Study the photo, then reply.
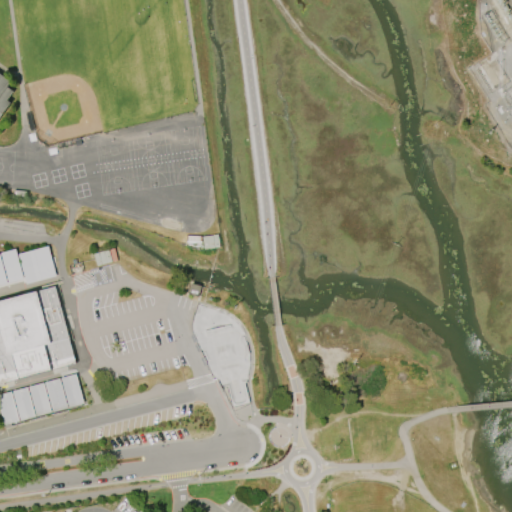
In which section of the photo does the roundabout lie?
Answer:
bottom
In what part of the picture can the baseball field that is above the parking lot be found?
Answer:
top left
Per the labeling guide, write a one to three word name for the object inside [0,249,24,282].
building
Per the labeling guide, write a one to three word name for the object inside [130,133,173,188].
basketball court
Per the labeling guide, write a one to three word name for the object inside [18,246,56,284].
building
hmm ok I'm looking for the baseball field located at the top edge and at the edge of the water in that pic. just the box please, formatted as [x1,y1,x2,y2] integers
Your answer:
[16,0,203,144]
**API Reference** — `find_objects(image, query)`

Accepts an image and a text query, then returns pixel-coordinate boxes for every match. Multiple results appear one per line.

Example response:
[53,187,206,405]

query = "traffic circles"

[256,431,334,512]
